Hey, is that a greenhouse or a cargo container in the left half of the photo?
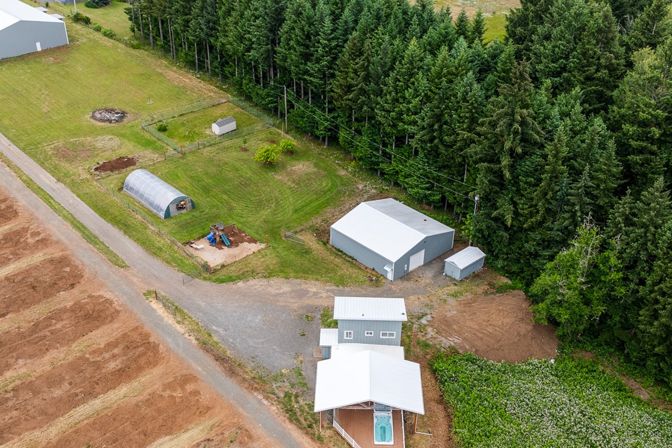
greenhouse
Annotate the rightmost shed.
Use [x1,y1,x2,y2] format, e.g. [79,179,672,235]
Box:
[441,246,488,283]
